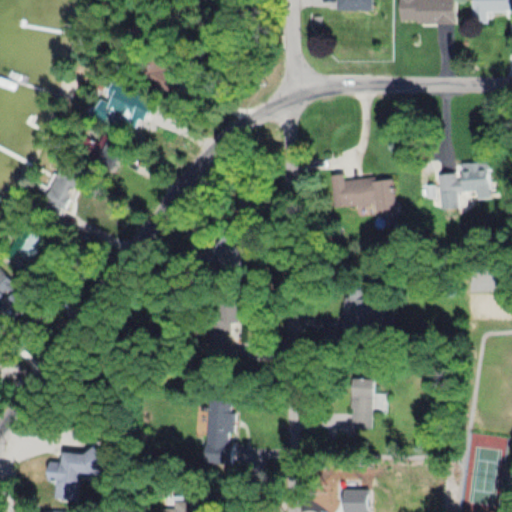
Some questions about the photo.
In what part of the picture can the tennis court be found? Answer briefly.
bottom right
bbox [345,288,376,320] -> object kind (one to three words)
house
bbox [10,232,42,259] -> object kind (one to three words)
house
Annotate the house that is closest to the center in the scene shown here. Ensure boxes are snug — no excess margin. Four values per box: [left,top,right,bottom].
[214,300,238,328]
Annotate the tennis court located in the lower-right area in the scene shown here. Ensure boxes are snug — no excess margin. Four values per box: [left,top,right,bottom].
[464,434,508,512]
